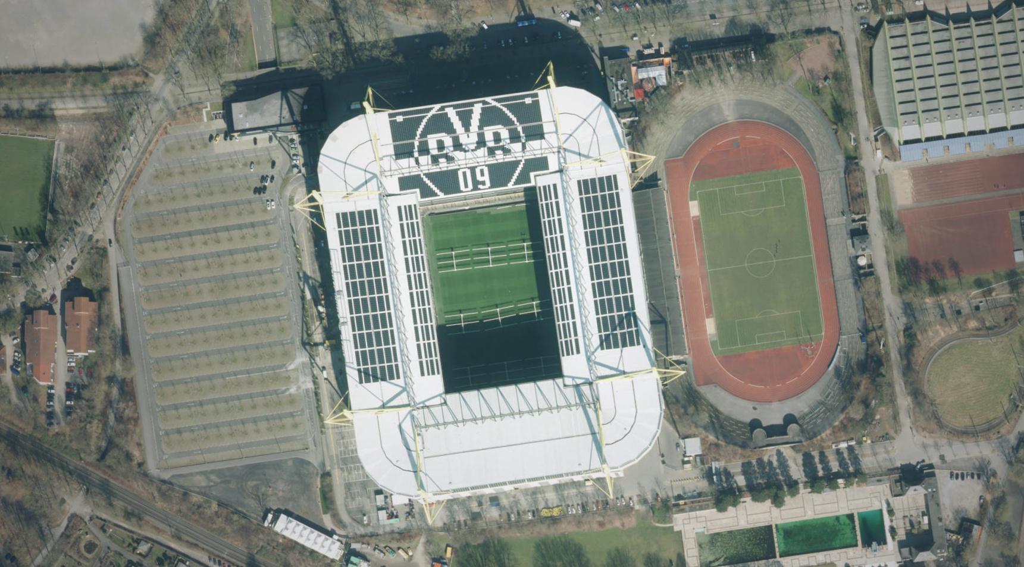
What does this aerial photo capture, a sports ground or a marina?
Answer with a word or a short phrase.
sports ground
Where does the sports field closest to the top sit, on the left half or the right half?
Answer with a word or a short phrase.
left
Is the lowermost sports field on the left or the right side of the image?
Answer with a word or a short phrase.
right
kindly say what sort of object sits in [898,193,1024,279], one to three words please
sports court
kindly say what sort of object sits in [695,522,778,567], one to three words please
swimming pool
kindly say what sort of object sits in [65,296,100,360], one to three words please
house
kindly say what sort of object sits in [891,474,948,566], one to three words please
building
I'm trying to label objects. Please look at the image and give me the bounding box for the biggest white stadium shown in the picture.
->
[294,60,686,525]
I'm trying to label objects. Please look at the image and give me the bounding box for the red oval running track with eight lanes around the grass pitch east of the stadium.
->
[668,119,839,403]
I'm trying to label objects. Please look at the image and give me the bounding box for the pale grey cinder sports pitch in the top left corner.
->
[0,0,154,68]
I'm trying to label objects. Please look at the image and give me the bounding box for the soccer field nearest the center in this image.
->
[421,199,563,393]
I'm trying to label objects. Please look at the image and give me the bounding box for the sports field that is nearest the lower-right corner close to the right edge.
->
[914,306,1024,442]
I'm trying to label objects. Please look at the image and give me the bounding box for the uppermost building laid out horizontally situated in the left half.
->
[230,86,329,138]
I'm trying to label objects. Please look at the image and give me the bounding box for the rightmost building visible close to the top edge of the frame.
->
[873,2,1024,163]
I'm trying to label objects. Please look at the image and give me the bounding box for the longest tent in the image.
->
[274,514,342,561]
